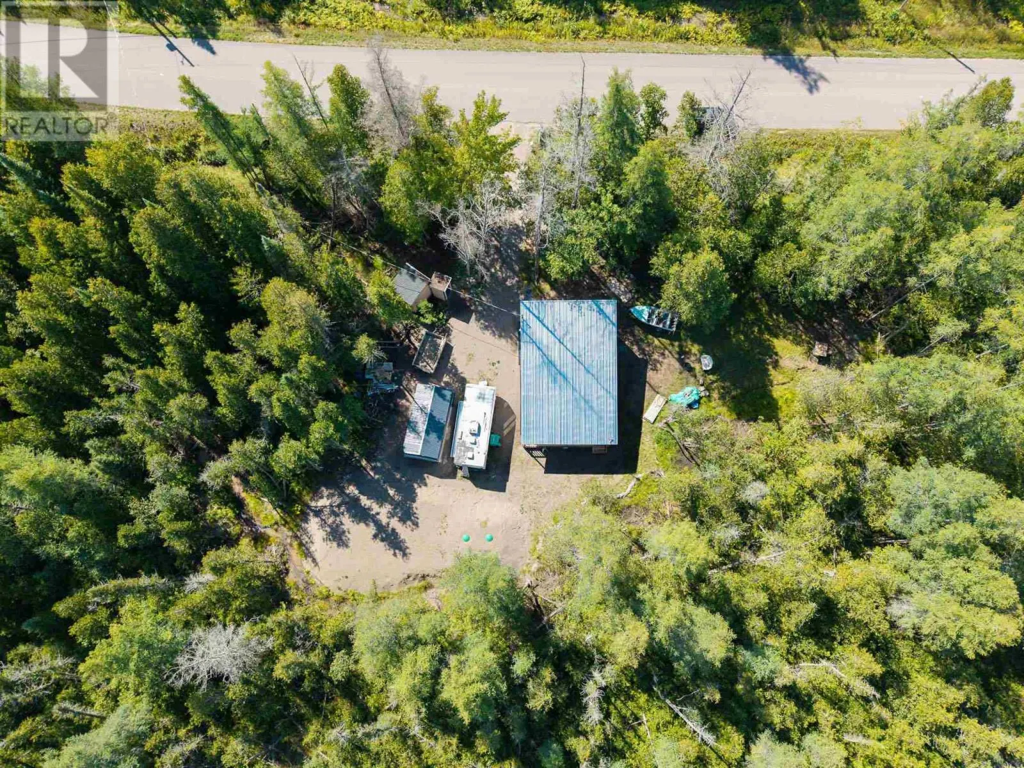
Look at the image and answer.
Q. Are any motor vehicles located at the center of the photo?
Yes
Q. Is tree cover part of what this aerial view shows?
Yes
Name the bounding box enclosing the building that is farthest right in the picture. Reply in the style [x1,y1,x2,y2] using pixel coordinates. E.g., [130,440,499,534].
[520,298,618,461]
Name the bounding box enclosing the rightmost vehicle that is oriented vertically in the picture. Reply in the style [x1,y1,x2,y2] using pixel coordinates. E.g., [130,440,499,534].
[450,382,498,482]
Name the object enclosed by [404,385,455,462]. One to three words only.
shed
